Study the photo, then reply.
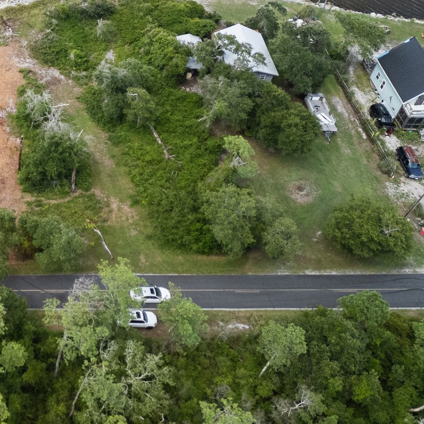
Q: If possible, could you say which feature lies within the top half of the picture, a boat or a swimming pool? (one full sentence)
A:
There is a boat within the top half of the picture.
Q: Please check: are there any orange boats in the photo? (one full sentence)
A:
No, no orange boat is visible in the scene.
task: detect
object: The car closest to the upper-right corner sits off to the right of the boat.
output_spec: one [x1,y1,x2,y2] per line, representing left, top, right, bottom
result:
[368,104,393,131]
